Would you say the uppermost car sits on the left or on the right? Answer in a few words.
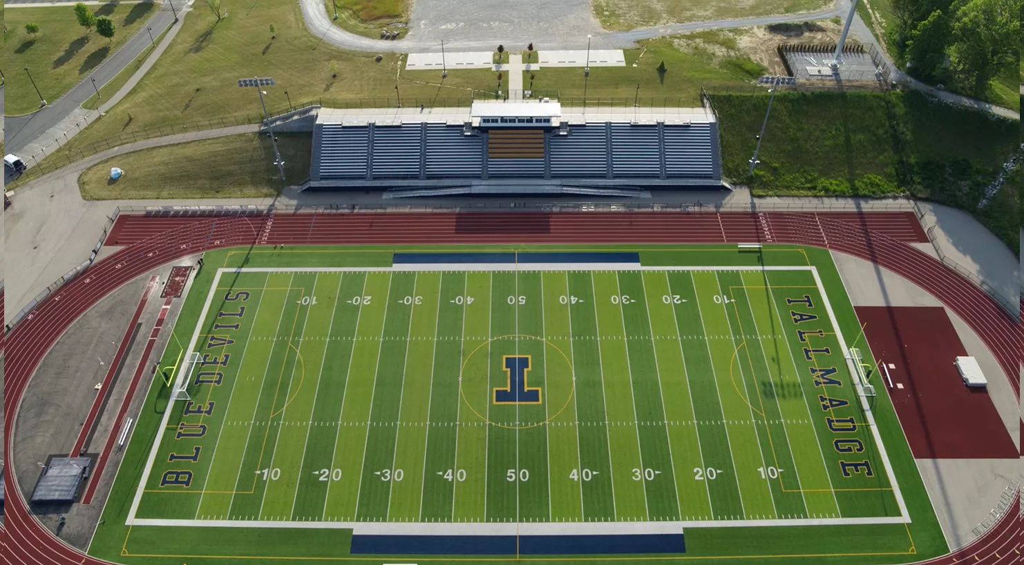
left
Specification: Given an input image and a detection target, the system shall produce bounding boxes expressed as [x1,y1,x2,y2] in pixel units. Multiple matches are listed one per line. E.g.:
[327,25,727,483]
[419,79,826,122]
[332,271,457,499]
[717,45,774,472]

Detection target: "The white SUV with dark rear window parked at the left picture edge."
[2,152,26,172]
